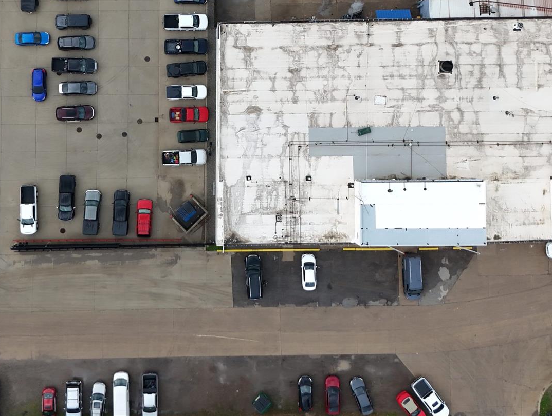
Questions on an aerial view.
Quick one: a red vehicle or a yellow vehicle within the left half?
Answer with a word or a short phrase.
red vehicle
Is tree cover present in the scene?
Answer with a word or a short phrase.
No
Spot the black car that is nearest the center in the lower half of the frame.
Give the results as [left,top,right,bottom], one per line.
[244,253,263,300]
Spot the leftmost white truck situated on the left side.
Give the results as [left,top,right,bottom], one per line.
[17,183,39,234]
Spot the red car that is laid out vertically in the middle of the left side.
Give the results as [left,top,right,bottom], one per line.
[136,197,154,237]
